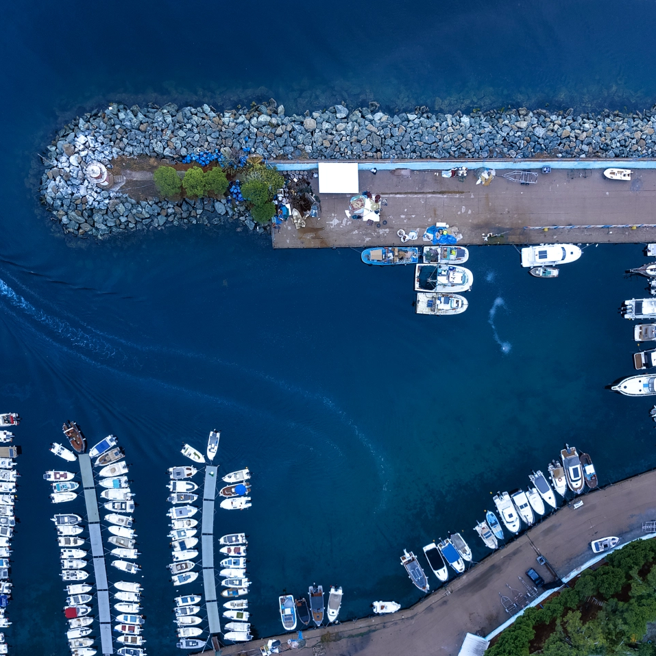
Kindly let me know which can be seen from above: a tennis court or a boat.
boat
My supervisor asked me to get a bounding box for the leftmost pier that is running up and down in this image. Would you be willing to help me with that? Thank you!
[78,453,114,653]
